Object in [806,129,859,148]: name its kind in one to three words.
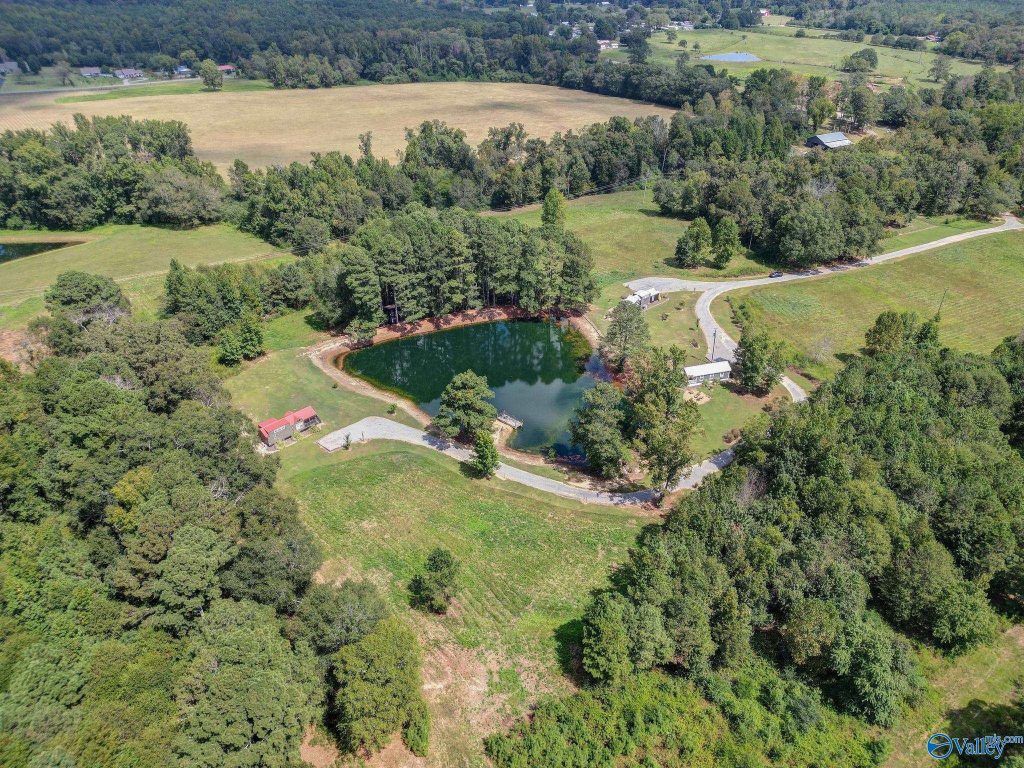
barn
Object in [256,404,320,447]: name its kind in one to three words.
building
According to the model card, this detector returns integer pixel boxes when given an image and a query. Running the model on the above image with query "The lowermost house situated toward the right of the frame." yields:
[683,360,733,385]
